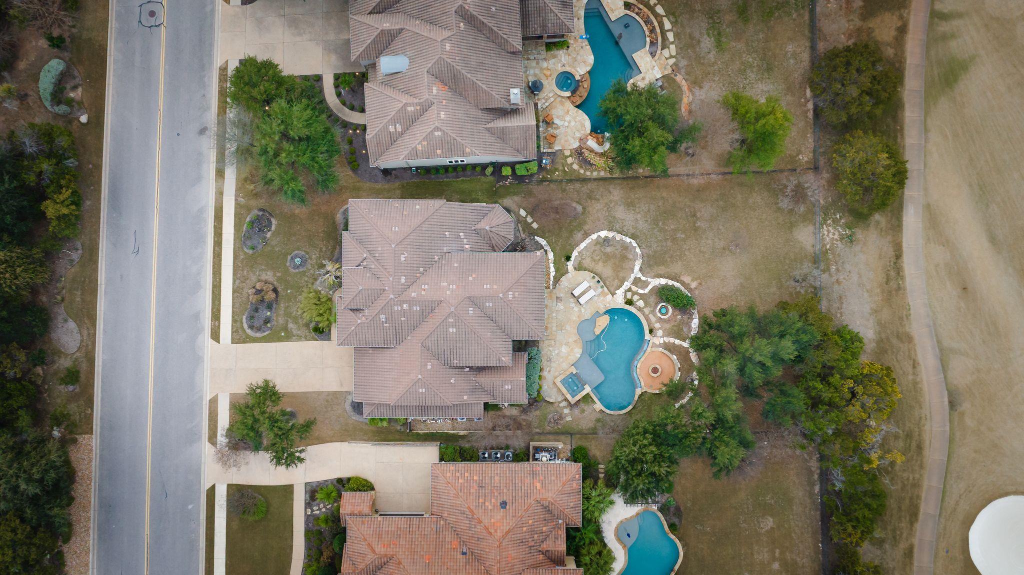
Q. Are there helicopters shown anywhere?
No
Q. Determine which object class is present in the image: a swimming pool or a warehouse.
swimming pool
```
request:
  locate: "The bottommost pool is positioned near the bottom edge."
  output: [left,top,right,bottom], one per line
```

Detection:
[615,509,683,575]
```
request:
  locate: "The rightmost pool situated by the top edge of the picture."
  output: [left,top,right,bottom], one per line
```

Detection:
[578,0,647,134]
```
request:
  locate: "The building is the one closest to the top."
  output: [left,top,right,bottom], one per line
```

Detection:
[348,0,577,169]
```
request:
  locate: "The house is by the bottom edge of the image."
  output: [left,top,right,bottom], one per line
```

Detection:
[340,460,584,575]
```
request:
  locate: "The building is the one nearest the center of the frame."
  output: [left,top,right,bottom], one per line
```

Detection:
[335,198,546,420]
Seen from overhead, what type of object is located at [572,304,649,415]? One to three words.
swimming pool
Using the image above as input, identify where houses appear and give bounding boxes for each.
[340,460,584,575]
[335,198,546,420]
[348,0,577,169]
